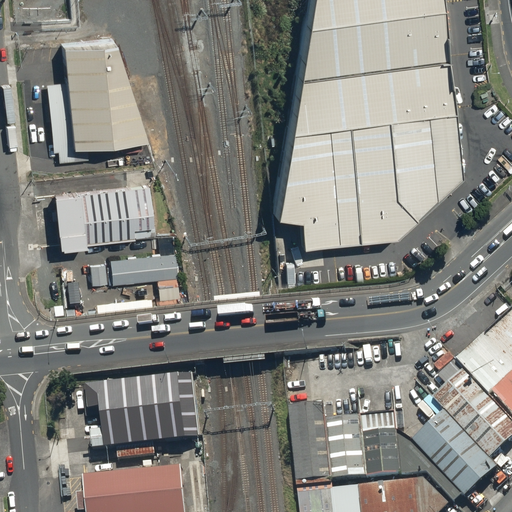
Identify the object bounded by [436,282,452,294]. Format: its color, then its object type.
white vehicle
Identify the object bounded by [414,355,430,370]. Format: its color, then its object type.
gray vehicle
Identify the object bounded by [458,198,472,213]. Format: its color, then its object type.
white vehicle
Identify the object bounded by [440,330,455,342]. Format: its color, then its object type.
red vehicle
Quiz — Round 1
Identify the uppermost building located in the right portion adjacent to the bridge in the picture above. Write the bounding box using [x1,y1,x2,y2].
[273,0,464,252]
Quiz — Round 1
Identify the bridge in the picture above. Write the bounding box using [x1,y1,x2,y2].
[184,288,292,362]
